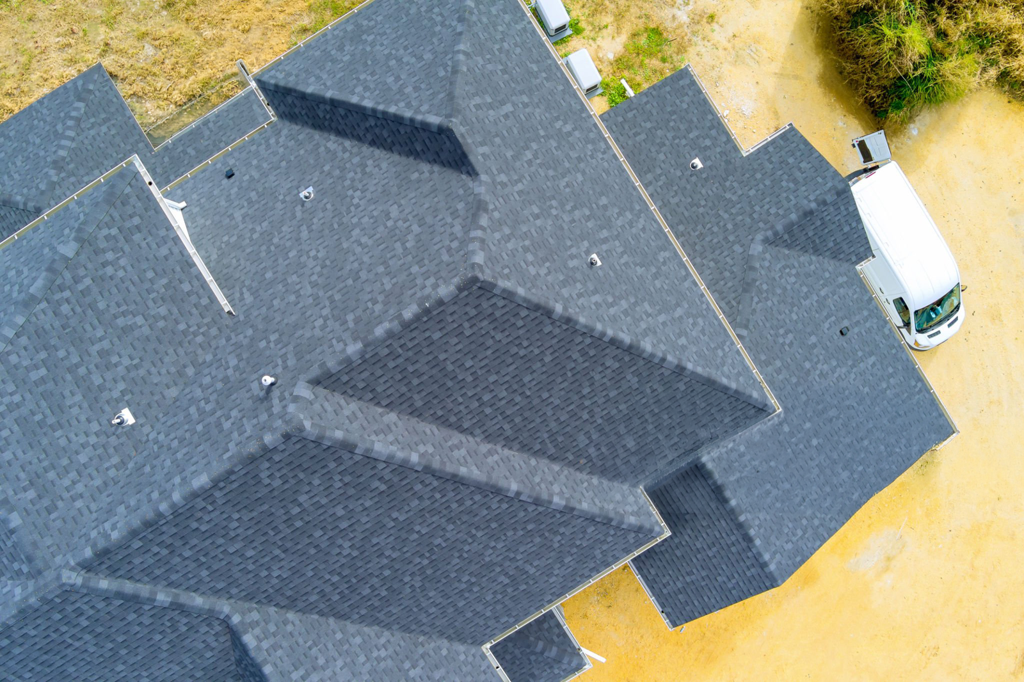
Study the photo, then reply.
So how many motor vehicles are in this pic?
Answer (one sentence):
I count 1 motor vehicle.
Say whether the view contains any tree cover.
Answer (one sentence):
No, there's no tree cover in this view.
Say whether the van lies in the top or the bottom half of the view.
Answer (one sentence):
The top half of the photo is where the van is.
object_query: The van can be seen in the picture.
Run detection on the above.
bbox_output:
[841,128,968,349]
